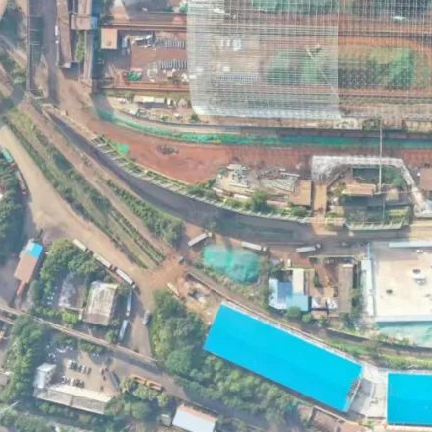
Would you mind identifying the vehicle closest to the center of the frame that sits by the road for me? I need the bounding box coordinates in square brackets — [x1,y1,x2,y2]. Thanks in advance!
[185,231,210,248]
